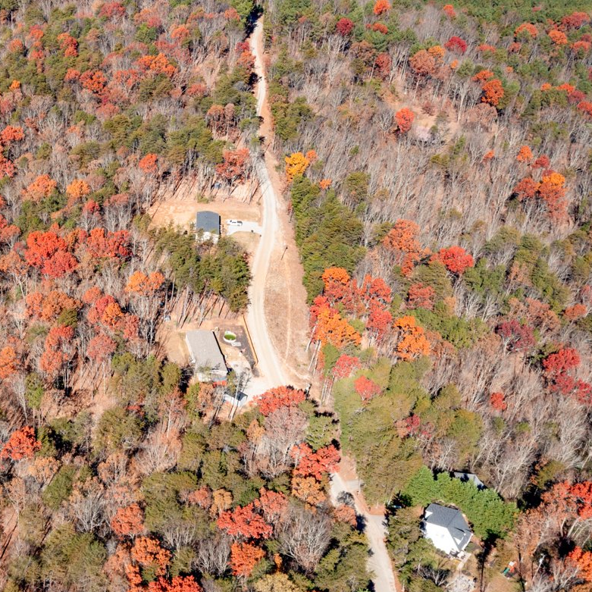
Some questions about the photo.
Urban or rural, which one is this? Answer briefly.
rural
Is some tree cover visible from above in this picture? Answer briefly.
Yes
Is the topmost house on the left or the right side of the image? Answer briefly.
left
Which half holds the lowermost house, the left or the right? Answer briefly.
right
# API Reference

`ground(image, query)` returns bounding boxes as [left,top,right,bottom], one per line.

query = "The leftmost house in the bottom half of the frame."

[187,329,229,382]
